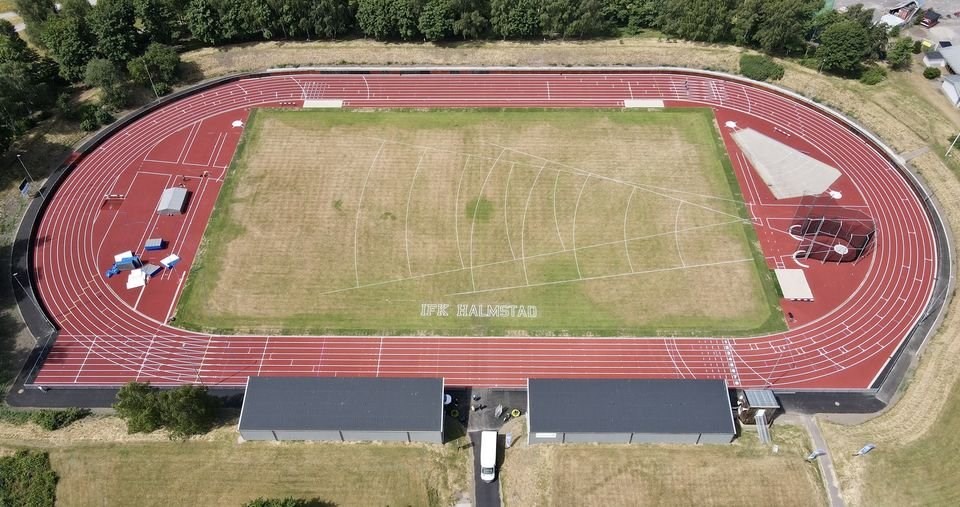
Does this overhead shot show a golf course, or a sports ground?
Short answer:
sports ground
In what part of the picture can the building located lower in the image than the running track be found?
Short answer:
bottom right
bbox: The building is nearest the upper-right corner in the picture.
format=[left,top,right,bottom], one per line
[911,5,942,30]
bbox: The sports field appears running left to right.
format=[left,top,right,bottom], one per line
[172,107,786,337]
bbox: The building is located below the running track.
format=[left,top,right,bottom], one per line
[738,390,779,445]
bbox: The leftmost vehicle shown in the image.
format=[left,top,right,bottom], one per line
[480,430,497,483]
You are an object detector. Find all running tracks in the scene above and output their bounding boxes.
[30,74,939,394]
